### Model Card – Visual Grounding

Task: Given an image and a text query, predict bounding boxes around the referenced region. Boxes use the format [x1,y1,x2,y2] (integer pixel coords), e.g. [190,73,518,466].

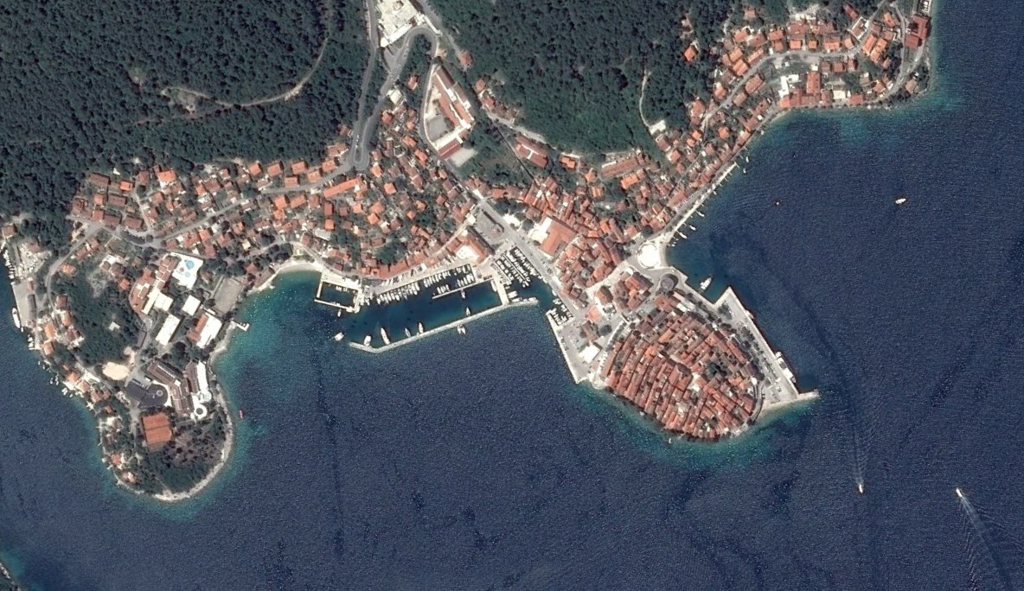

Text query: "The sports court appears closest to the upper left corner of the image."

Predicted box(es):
[213,278,241,312]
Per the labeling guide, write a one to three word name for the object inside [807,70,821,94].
house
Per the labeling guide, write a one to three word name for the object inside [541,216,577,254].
building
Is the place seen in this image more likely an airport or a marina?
marina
